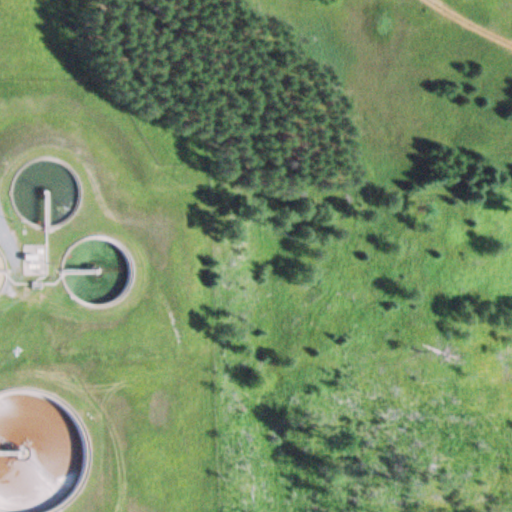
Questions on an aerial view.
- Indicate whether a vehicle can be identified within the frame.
No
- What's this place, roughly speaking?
industrial area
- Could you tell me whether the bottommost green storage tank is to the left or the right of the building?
on the right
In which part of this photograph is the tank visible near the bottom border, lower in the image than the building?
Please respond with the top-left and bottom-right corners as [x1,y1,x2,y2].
[0,386,92,512]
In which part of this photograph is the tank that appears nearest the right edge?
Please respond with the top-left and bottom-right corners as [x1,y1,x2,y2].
[61,236,133,308]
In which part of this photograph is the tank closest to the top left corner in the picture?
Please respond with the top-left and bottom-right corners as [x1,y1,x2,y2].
[12,158,81,266]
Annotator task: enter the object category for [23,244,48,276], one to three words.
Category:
building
